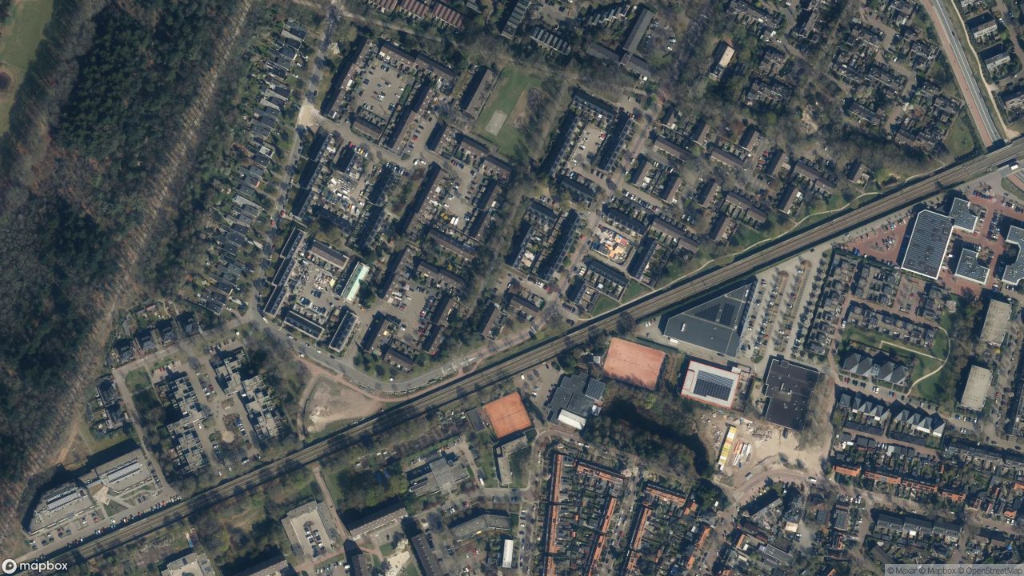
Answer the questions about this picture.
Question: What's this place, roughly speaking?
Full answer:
It's a residential area.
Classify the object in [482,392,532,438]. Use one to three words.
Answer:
tennis court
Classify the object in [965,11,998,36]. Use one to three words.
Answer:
house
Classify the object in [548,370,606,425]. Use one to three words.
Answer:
building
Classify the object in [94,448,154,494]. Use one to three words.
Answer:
building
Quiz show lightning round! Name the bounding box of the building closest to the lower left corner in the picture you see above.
[24,482,96,536]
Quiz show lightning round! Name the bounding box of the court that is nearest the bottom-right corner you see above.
[604,337,666,389]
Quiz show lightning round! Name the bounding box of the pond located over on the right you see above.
[616,399,709,473]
